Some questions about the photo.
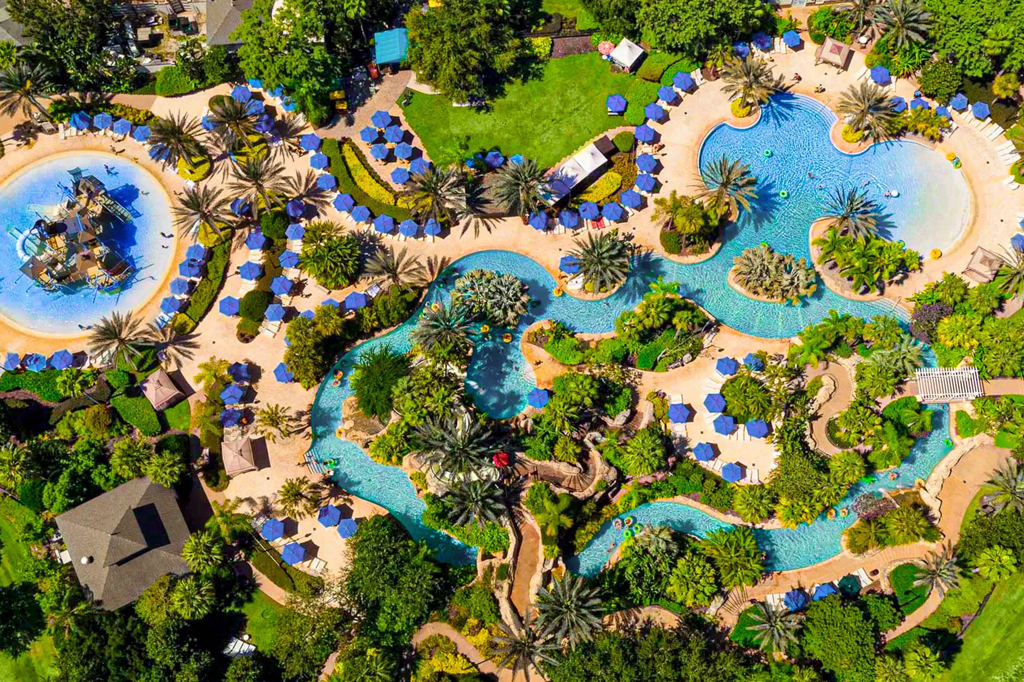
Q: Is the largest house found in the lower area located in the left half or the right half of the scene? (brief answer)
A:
left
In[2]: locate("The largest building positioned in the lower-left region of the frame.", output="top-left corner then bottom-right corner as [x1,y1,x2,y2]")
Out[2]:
[59,473,191,615]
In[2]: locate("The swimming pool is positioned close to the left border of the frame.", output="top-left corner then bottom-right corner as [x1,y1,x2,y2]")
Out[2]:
[0,150,179,337]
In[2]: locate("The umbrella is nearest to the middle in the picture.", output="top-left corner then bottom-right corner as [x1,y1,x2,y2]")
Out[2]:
[527,387,548,408]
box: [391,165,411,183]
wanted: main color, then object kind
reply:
blue umbrella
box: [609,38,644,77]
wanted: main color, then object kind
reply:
white tent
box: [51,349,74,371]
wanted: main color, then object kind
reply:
blue umbrella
